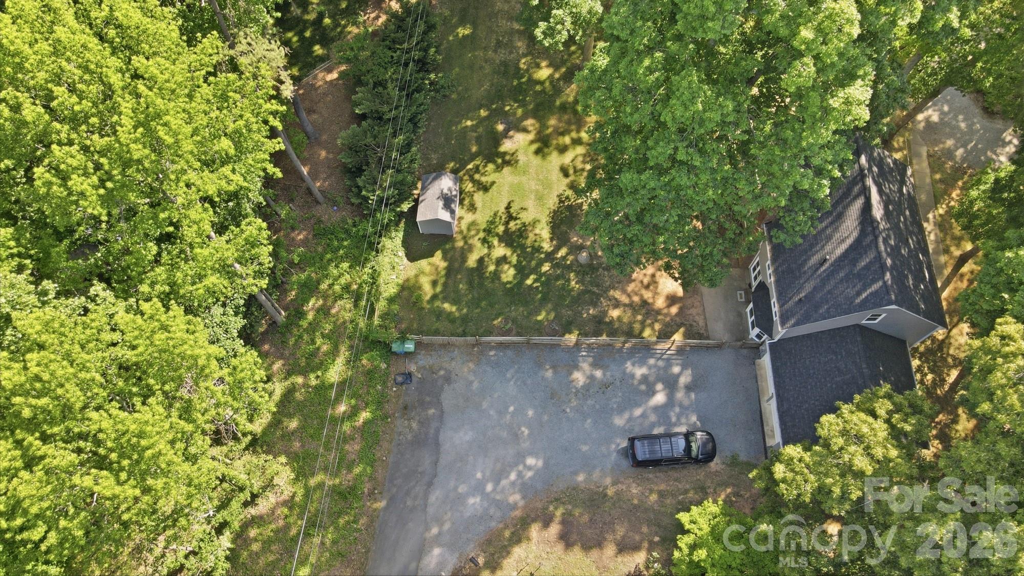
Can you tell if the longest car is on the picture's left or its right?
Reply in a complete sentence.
The longest car is on the right side of the image.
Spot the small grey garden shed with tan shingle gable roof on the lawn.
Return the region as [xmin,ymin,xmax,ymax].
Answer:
[416,167,460,236]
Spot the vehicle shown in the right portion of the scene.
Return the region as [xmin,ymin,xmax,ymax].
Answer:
[627,428,719,471]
